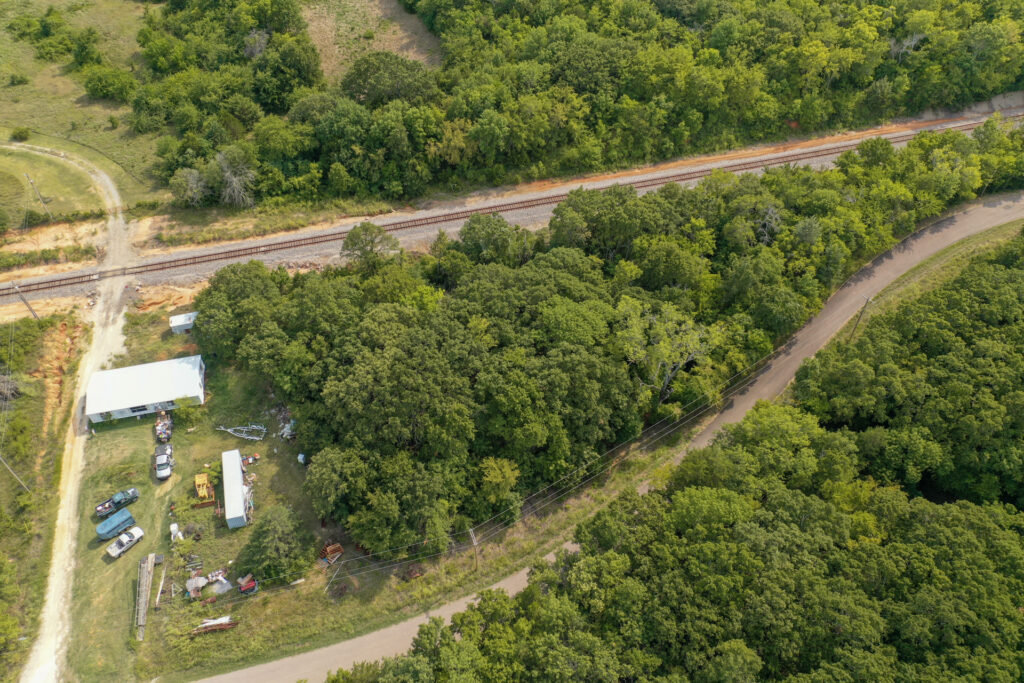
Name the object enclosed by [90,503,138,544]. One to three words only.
trailer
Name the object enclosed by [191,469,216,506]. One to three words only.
work vehicle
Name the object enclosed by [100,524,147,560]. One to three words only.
truck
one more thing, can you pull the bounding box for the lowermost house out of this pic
[84,350,215,423]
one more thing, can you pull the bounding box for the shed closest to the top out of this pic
[165,309,197,333]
